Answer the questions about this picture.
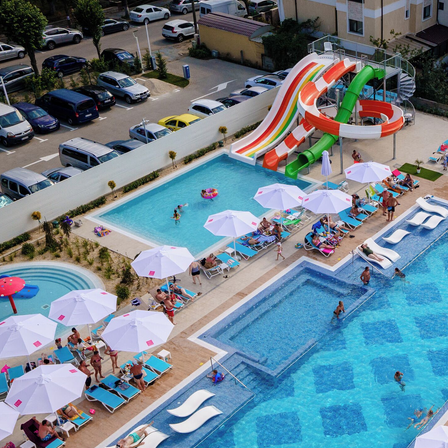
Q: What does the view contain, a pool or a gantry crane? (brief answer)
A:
pool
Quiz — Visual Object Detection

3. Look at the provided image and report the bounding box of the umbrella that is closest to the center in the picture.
[200,212,259,262]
